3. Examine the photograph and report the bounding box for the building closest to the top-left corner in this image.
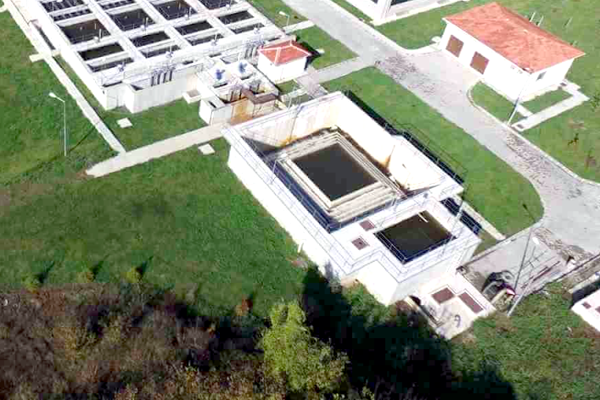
[258,37,313,79]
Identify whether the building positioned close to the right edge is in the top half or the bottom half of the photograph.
top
